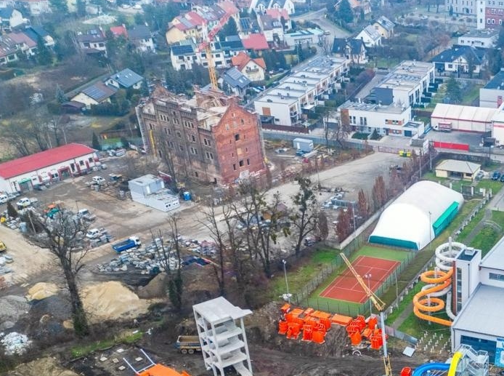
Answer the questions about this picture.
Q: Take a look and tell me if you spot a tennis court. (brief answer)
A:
Yes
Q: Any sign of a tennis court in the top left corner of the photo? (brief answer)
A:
No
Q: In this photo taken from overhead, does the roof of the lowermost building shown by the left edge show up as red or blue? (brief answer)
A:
red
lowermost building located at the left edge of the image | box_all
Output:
[0,142,100,193]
